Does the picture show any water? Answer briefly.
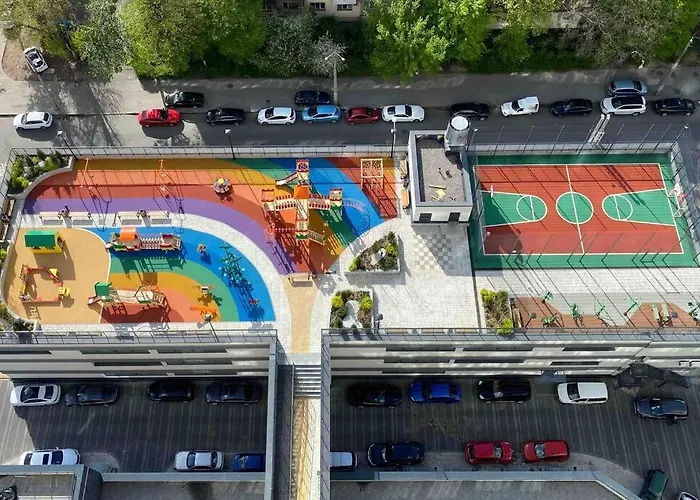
No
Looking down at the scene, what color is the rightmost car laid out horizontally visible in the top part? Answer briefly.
black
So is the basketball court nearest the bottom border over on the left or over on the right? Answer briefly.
right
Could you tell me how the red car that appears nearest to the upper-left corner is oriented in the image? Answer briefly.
from side to side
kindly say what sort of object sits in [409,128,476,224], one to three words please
building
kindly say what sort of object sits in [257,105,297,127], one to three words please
car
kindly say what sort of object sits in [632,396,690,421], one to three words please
car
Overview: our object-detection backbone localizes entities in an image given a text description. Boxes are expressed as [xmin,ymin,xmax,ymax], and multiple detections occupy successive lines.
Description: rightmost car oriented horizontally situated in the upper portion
[651,96,697,118]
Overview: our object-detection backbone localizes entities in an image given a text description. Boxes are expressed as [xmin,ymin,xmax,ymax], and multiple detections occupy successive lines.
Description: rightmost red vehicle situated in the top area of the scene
[344,106,383,127]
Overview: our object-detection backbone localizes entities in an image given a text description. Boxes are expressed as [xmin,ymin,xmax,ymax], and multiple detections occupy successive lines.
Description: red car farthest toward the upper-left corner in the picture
[137,107,183,129]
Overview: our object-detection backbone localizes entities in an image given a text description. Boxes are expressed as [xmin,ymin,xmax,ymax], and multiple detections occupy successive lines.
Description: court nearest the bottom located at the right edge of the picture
[471,155,700,267]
